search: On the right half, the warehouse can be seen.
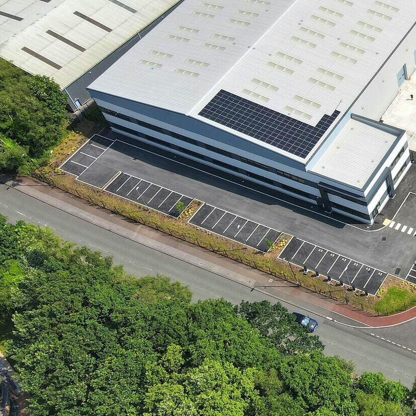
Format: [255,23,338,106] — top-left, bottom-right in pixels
[84,0,416,222]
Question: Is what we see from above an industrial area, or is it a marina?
industrial area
